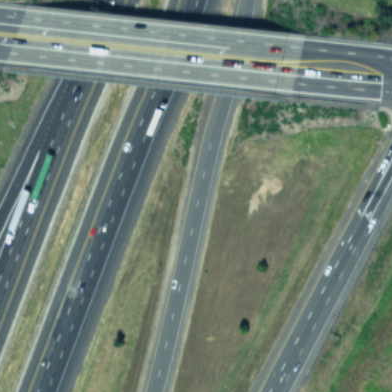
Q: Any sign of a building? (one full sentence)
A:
No, no building is visible in the view.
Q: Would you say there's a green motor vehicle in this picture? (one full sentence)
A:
Yes, this view includes a green motor vehicle.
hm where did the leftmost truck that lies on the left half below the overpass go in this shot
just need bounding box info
[4,190,29,244]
